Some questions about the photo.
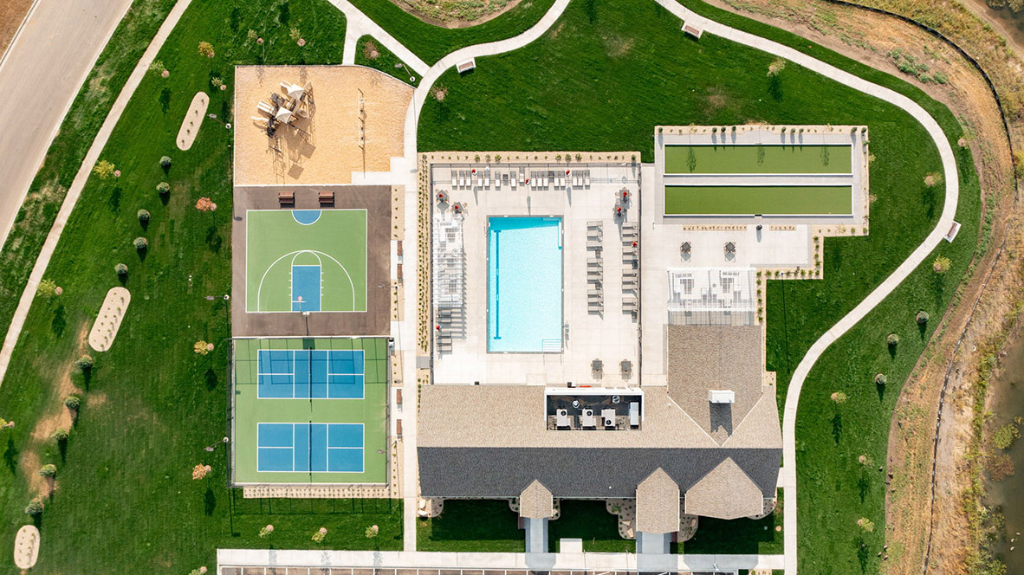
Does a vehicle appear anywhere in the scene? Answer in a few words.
No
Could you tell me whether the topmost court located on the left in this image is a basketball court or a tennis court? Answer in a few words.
basketball court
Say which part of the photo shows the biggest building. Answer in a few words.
bottom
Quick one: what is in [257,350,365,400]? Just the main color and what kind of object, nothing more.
blue sports court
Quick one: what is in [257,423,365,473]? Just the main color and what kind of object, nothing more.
blue sports court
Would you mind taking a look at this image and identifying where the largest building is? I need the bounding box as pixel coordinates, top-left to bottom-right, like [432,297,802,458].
[417,325,785,537]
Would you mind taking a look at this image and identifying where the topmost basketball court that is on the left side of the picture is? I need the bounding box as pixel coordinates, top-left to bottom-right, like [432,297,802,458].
[233,185,390,336]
